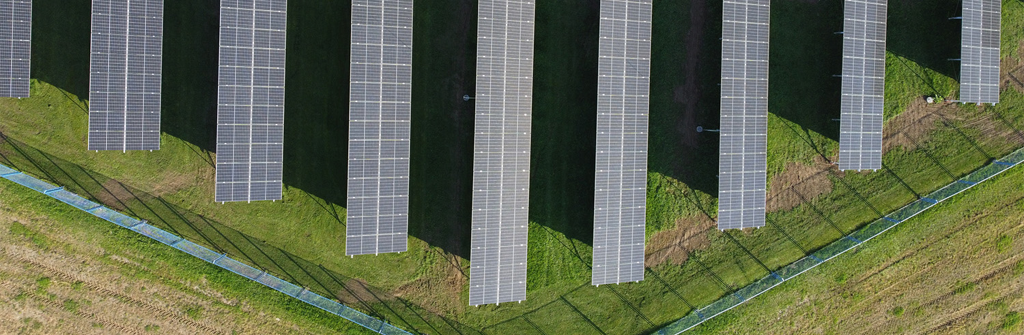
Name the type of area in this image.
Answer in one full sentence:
The picture captures a solar farm.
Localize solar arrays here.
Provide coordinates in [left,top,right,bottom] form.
[946,0,1002,107]
[0,0,31,100]
[470,0,535,308]
[347,0,413,259]
[714,0,772,232]
[89,0,162,153]
[592,0,653,288]
[829,0,888,173]
[216,0,286,205]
